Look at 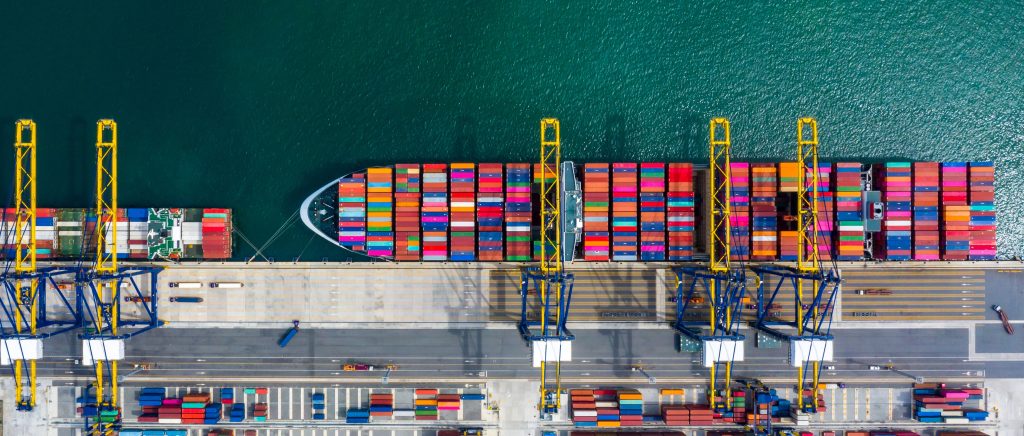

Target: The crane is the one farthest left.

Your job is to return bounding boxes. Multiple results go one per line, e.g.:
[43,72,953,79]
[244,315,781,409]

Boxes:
[0,119,98,415]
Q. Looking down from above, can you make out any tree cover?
No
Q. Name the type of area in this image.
port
